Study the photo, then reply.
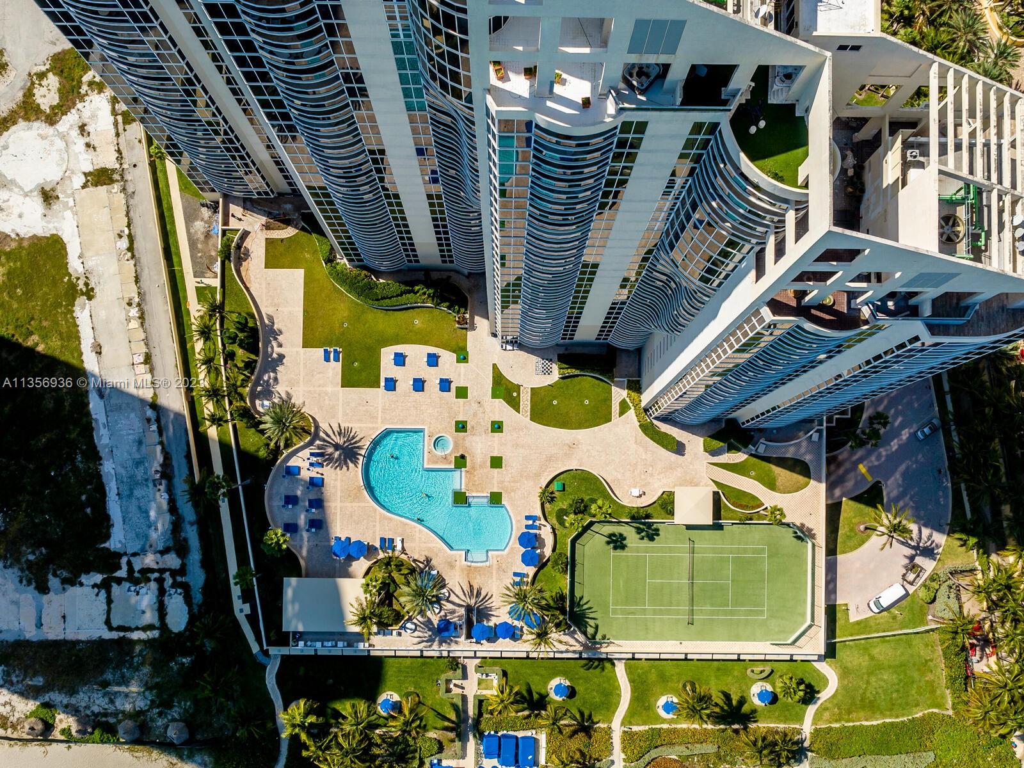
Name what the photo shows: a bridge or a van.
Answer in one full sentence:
It is a van that can be seen here.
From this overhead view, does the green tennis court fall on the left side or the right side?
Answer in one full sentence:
It is on the right.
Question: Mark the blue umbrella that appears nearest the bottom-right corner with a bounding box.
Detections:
[756,688,771,703]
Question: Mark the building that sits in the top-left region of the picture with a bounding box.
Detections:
[35,0,498,280]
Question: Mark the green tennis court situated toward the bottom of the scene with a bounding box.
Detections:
[570,522,811,642]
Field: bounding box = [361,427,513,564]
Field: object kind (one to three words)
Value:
swimming pool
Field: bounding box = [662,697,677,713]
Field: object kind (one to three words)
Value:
umbrella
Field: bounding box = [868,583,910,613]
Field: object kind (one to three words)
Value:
van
